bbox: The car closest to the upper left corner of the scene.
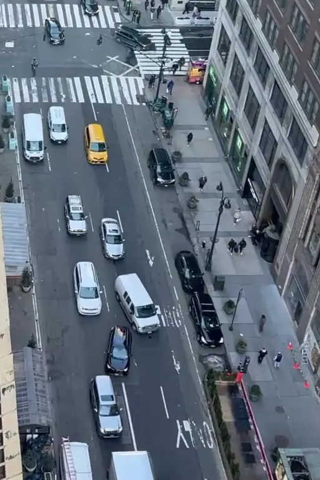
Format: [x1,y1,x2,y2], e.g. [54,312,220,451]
[42,16,64,45]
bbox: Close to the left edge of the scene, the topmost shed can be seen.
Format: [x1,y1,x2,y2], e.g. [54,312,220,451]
[0,202,34,300]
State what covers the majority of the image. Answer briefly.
paved ground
